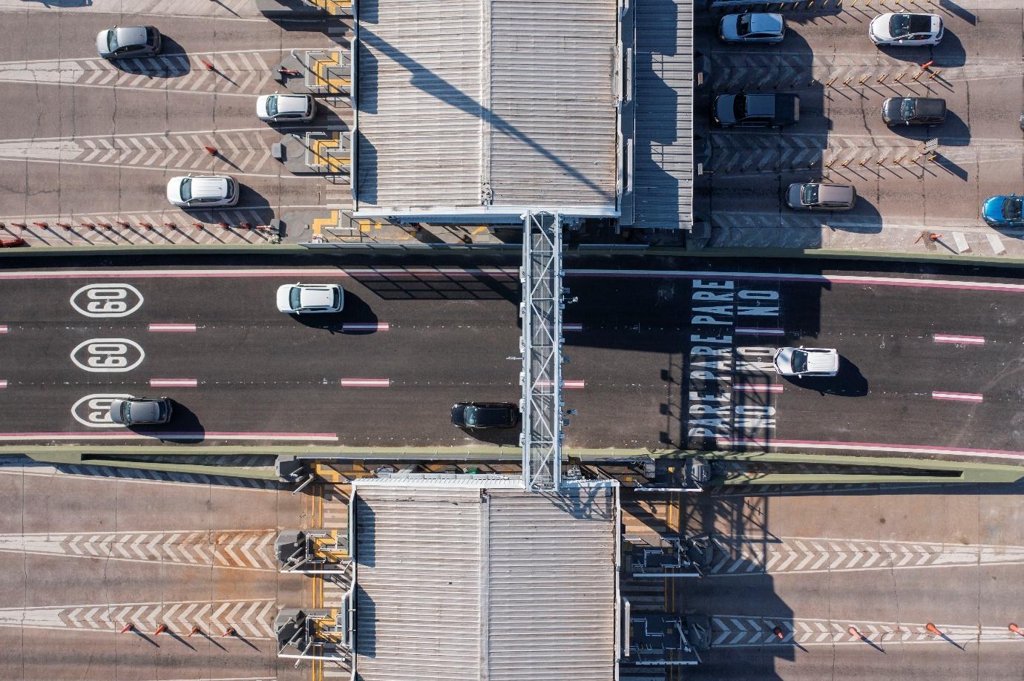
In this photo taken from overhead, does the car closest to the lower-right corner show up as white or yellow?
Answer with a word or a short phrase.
white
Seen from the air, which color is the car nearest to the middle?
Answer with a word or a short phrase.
black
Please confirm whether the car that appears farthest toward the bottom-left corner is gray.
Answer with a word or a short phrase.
Yes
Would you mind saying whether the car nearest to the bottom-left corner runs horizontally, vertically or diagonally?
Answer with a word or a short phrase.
horizontally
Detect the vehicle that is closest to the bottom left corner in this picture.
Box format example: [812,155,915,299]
[110,395,174,428]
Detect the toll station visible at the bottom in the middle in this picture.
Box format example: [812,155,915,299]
[350,462,632,681]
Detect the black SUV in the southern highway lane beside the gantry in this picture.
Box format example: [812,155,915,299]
[451,399,518,433]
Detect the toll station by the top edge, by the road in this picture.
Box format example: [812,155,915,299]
[350,0,695,235]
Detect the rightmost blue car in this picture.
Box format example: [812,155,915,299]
[980,192,1024,227]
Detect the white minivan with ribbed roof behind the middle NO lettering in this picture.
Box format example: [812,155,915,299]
[773,344,838,379]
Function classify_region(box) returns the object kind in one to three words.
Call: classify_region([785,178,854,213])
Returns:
car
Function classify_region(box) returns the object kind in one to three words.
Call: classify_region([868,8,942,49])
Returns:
car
